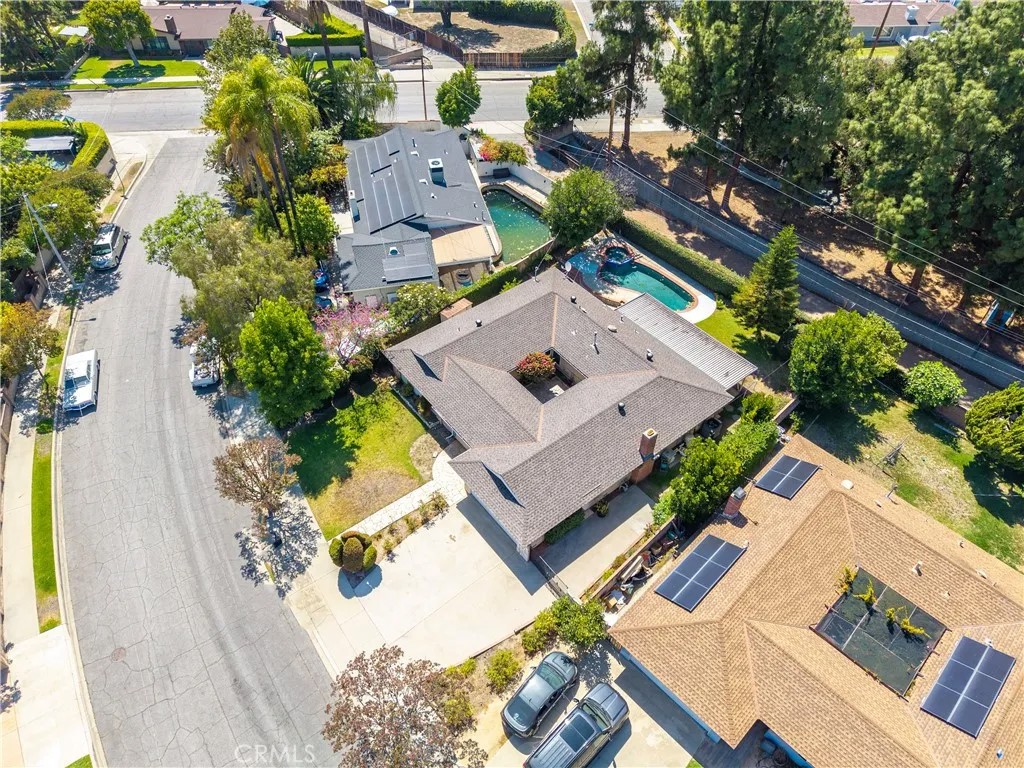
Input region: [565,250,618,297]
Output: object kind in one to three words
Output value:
swimming pool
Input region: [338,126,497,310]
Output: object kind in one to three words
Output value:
house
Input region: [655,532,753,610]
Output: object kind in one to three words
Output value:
solar panel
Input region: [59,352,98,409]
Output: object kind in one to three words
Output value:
car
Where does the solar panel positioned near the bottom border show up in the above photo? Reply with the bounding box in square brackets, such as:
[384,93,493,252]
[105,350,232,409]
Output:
[923,636,1021,738]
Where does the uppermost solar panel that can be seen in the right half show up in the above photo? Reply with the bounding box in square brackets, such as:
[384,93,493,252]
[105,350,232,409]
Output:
[755,454,826,498]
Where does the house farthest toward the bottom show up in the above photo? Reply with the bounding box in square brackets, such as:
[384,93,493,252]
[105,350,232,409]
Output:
[608,433,1024,768]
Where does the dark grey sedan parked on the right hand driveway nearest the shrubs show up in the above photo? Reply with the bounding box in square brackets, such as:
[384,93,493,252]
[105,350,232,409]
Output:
[503,652,579,742]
